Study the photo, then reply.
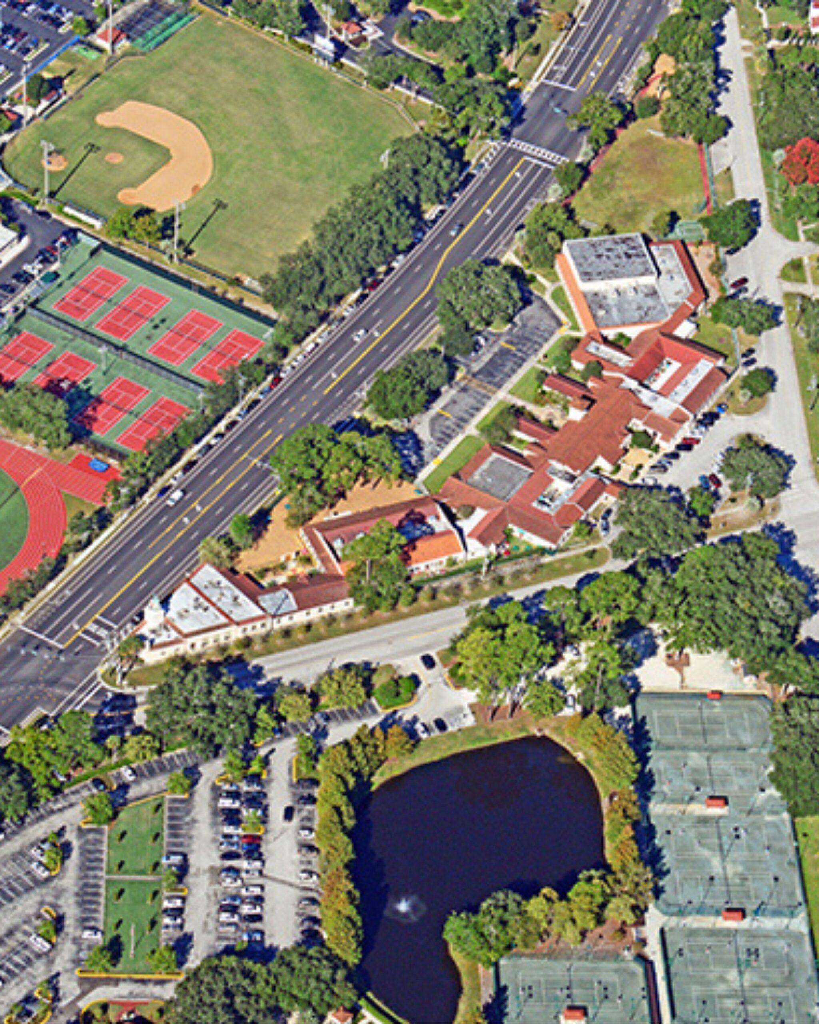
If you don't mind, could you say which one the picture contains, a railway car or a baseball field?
baseball field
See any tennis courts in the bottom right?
Yes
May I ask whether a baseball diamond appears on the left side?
Yes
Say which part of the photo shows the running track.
left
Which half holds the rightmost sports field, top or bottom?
top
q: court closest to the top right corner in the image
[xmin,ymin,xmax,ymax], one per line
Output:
[667,220,704,240]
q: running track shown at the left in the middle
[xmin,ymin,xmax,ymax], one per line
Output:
[0,439,114,595]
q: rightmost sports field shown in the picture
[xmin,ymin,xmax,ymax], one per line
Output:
[569,118,711,231]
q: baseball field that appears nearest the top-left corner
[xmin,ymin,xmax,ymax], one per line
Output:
[3,4,420,285]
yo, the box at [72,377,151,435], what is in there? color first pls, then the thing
red tennis court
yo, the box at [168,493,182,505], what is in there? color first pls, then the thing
white vehicle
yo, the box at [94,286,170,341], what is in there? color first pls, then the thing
red tennis court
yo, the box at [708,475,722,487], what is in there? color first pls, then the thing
red vehicle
